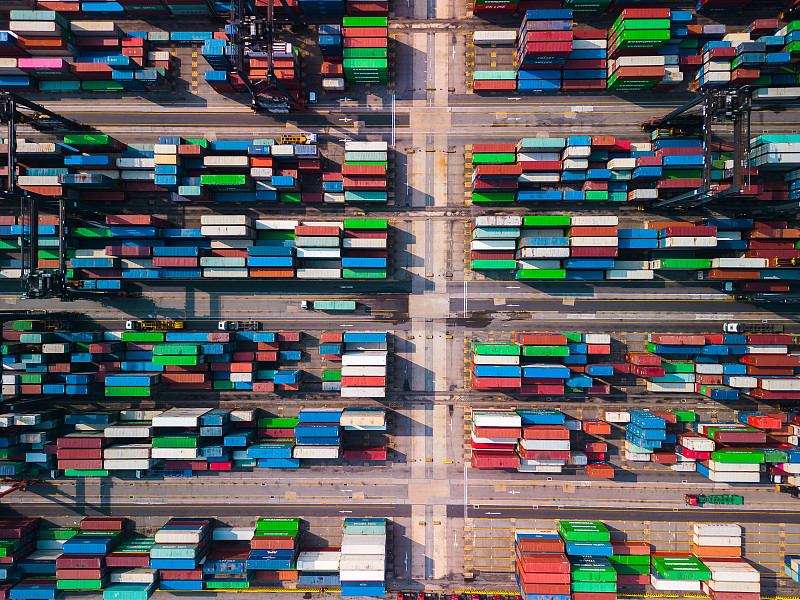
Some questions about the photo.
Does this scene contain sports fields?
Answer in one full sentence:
No, the photo shows no sports field.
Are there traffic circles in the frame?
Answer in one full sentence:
No, there's no traffic circle here.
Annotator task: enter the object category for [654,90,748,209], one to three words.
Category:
container crane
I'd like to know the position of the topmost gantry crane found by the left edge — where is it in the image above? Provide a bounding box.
[0,88,75,209]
